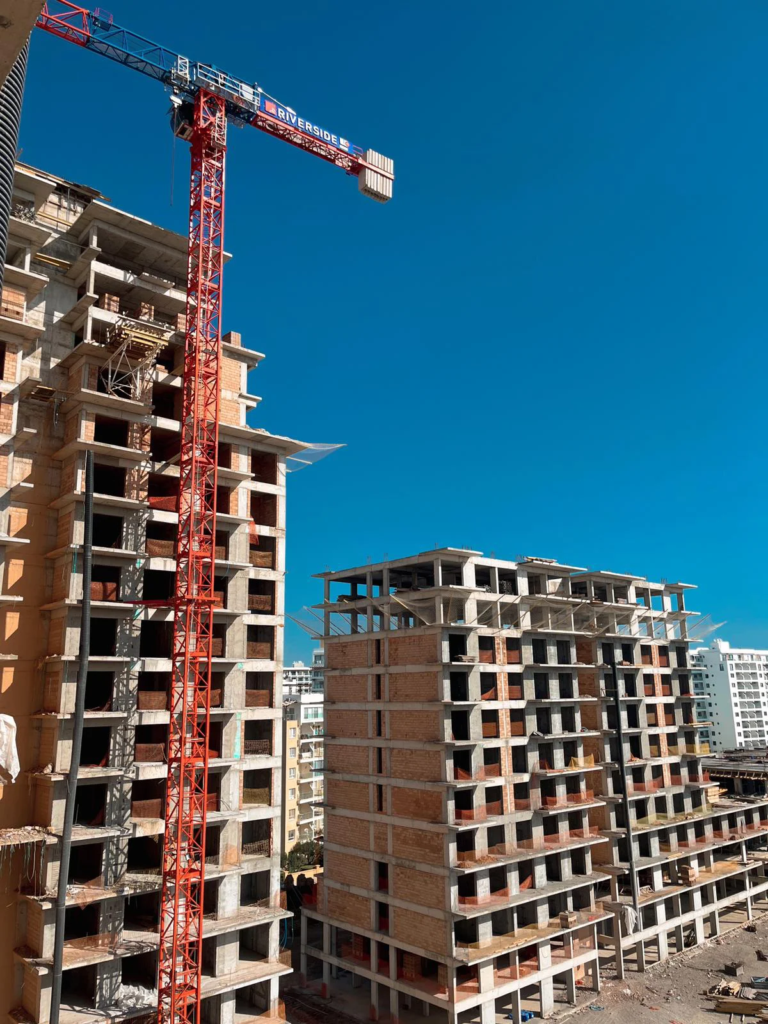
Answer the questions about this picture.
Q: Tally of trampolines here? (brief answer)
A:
0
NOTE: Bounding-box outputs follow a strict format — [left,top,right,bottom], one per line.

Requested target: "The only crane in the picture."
[31,0,396,1024]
